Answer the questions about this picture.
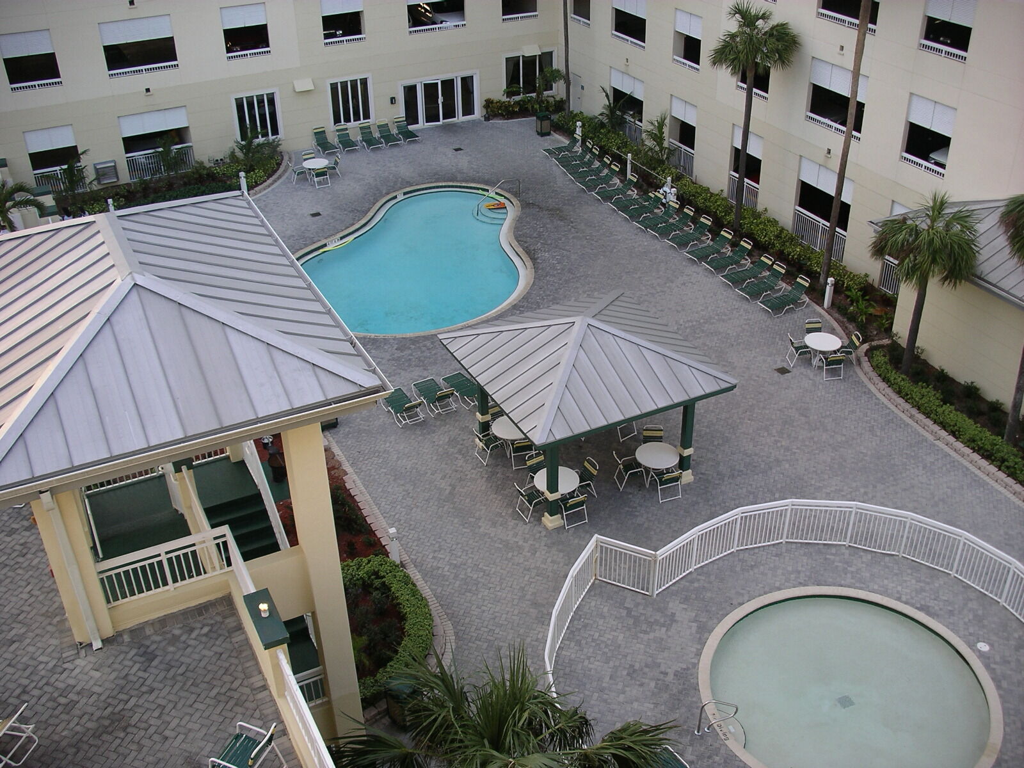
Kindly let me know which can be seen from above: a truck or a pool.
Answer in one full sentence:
The image shows a pool.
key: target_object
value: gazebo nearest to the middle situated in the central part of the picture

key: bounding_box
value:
[439,289,739,531]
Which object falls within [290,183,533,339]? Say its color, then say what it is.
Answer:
blue swimming pool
